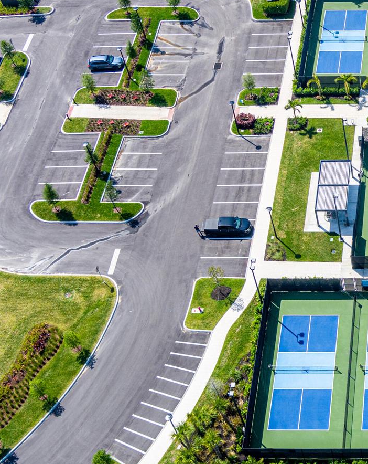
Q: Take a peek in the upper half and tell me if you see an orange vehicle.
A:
No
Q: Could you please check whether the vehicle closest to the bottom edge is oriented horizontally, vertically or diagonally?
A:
horizontally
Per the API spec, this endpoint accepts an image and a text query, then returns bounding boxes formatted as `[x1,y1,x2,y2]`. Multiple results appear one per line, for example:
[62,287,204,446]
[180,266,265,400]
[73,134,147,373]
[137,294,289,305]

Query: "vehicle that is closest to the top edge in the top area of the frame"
[86,56,126,73]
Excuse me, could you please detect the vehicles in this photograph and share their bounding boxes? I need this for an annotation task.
[86,56,126,73]
[200,217,254,238]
